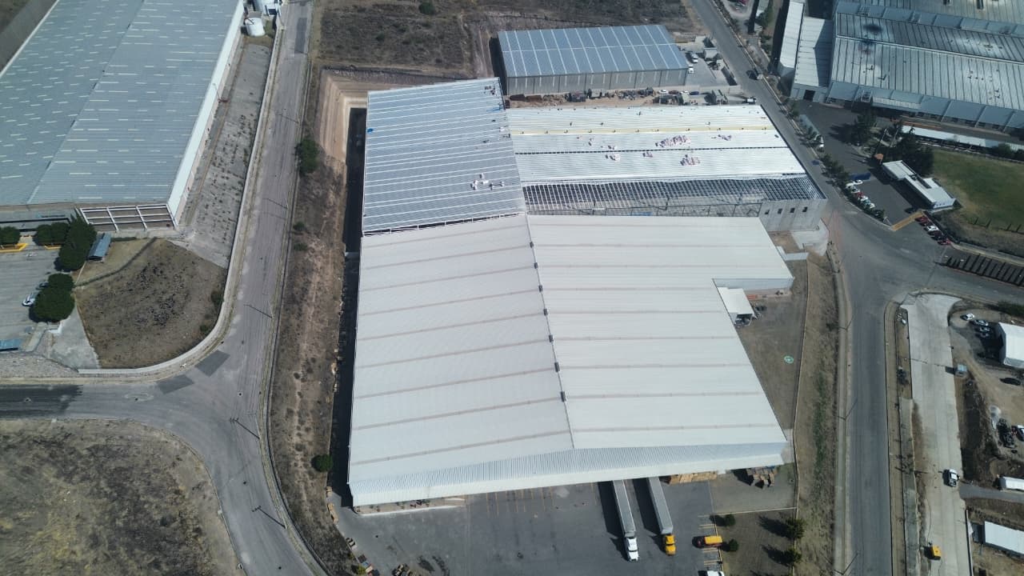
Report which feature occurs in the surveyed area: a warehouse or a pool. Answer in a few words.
warehouse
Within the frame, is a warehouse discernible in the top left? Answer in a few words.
Yes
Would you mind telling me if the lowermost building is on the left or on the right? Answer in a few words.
right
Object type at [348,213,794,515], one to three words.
warehouse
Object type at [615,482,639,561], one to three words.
truck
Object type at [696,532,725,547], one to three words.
vehicle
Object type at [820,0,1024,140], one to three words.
building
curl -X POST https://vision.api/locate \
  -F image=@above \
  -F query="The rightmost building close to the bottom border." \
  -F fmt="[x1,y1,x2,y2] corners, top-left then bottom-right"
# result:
[972,522,1024,561]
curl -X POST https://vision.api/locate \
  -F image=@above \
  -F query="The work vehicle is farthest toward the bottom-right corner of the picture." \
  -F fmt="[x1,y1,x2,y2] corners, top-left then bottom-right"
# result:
[925,543,947,561]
